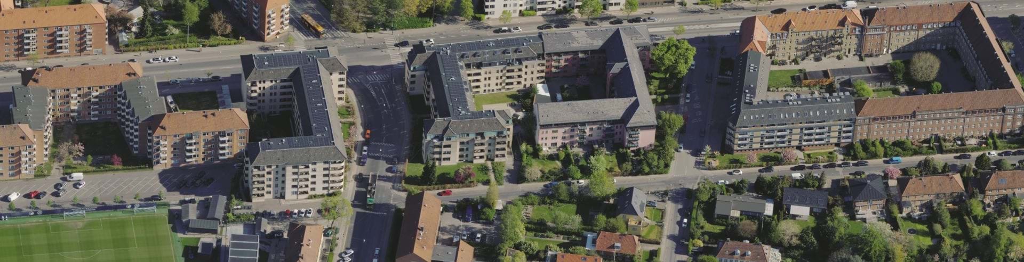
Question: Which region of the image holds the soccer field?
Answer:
bottom left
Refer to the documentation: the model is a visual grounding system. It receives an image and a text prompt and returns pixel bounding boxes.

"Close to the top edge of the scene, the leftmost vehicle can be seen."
[301,13,325,38]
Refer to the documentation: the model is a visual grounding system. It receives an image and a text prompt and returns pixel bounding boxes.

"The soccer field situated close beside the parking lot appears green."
[0,201,191,262]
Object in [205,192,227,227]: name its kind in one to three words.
shed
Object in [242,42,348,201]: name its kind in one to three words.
building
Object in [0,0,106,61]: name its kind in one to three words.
building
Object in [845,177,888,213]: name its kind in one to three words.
house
